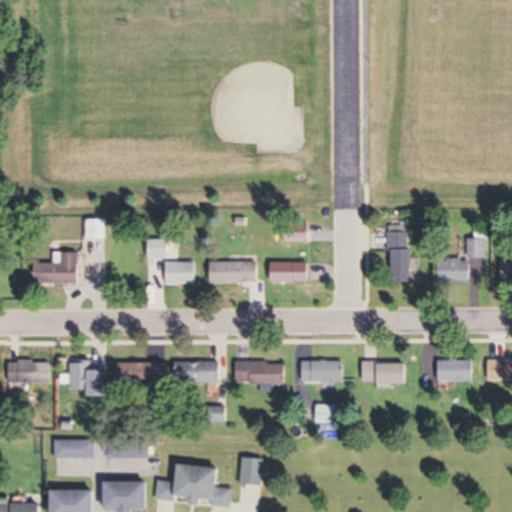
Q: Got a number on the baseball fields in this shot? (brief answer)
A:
1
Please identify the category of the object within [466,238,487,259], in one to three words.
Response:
building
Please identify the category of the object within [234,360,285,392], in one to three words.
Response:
house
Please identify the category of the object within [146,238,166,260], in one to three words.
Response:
building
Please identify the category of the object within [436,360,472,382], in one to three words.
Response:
house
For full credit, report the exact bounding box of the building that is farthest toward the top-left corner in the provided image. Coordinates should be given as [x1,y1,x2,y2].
[84,218,106,240]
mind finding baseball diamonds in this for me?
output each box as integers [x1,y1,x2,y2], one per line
[212,61,306,154]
